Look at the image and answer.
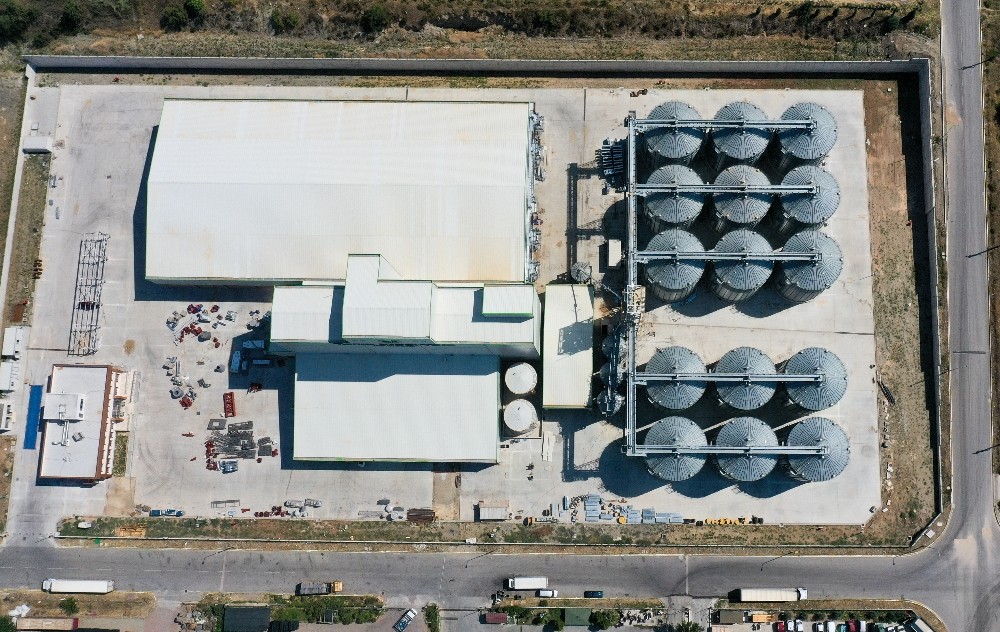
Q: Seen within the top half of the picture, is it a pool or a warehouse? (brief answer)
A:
warehouse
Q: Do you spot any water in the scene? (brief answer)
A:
No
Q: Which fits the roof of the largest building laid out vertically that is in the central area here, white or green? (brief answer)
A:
white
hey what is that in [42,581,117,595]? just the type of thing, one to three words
vehicle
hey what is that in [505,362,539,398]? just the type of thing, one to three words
storage tank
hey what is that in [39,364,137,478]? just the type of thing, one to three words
building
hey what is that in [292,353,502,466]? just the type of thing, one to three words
building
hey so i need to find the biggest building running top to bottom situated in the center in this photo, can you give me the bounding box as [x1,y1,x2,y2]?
[542,283,595,410]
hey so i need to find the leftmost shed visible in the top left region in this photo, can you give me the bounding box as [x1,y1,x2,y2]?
[22,136,54,153]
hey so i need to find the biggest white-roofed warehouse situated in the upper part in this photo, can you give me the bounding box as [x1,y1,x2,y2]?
[146,99,532,288]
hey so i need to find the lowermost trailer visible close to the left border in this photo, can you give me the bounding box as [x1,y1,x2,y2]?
[16,616,81,630]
